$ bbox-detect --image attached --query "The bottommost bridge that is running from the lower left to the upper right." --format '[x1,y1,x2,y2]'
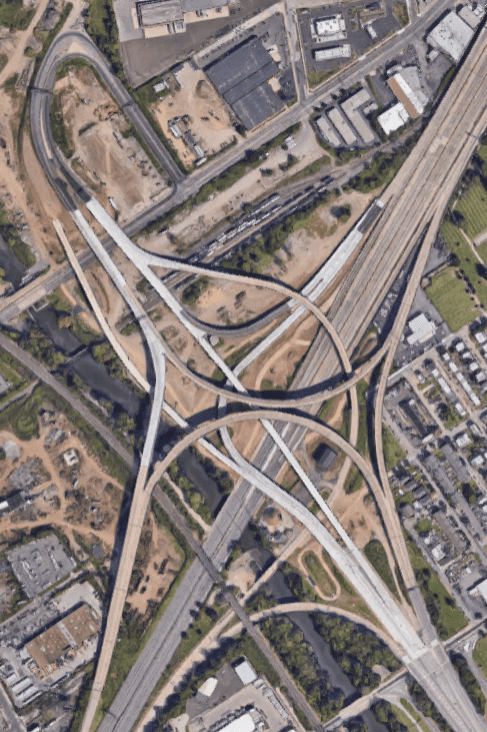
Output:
[320,690,378,732]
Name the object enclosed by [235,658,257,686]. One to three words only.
building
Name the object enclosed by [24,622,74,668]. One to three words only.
building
